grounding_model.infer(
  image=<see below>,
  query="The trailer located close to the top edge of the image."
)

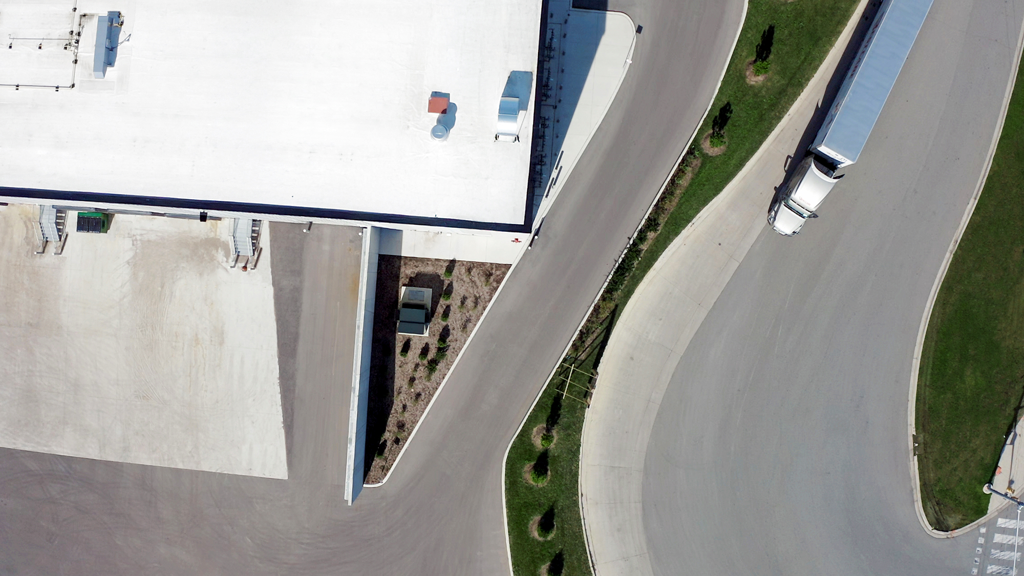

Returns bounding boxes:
[807,0,936,168]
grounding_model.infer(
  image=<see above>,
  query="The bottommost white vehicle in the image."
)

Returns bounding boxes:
[769,123,846,242]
